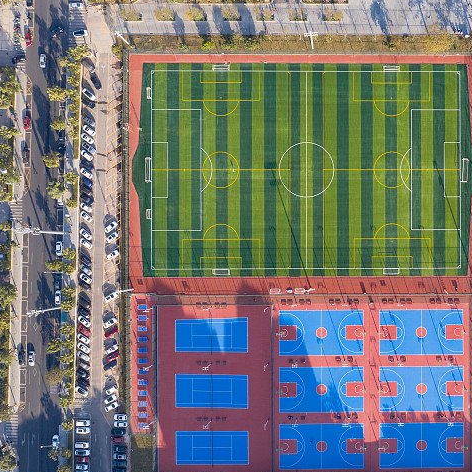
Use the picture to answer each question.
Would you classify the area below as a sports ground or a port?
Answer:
sports ground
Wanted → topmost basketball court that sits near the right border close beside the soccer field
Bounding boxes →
[380,309,464,355]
